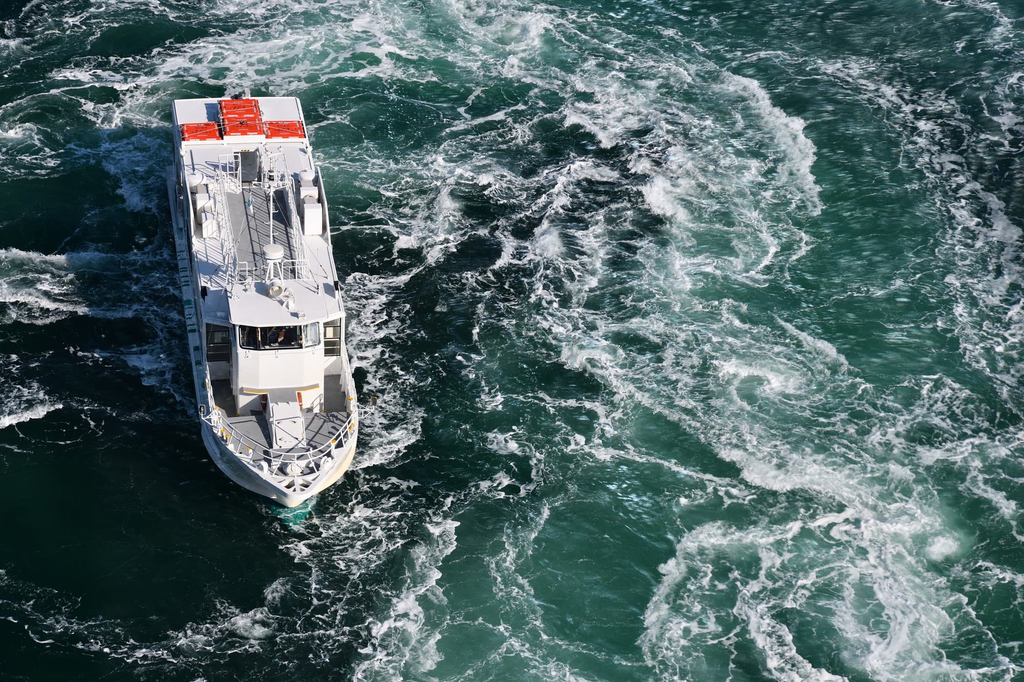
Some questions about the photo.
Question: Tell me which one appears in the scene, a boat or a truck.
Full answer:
Visible in the photo is a boat.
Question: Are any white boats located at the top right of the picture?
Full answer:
No, there's no white boat to be seen at the top right of the picture.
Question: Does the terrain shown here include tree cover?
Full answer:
No, there's no tree cover in this view.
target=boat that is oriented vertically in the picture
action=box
[169,91,378,506]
